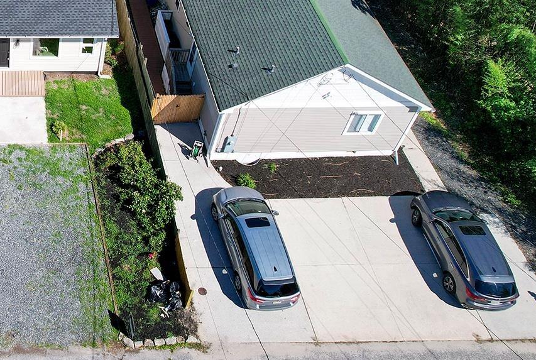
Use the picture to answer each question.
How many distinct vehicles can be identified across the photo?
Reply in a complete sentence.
The picture shows 2 vehicles.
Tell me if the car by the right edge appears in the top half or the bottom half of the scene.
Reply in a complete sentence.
The car by the right edge sits in the bottom half of the picture.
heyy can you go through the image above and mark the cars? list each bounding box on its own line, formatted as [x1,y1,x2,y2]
[413,193,516,315]
[218,192,301,315]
